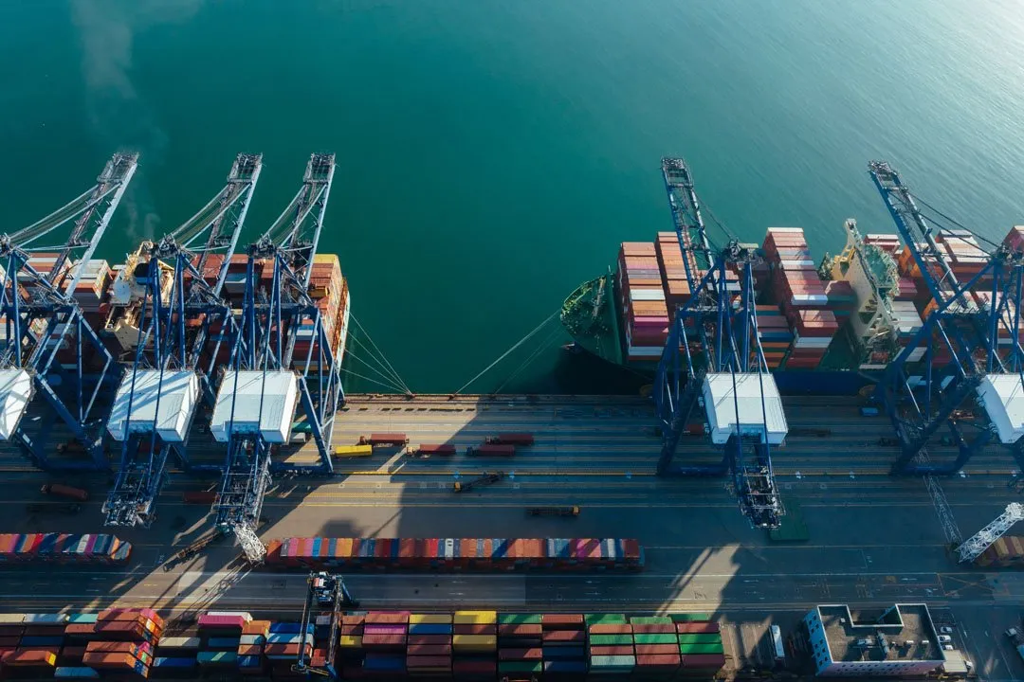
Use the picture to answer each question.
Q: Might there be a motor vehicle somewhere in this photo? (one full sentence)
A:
Yes, you can see a motor vehicle in this photo.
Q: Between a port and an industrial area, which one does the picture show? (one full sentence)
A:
This looks like a port.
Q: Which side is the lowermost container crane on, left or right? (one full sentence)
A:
The lowermost container crane is on the left side of the image.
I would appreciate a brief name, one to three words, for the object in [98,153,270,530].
container crane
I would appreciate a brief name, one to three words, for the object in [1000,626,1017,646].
vehicle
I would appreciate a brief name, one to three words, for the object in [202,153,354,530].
container crane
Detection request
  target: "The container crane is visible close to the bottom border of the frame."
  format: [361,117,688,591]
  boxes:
[286,571,362,682]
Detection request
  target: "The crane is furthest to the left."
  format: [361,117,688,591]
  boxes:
[0,153,135,473]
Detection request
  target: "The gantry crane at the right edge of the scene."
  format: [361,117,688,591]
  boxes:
[859,153,1024,484]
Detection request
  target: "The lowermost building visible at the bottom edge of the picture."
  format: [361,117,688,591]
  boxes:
[804,604,947,674]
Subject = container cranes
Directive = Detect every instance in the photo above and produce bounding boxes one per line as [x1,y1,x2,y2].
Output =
[859,153,1024,484]
[0,153,135,473]
[202,153,354,530]
[286,571,362,682]
[645,153,788,530]
[98,153,270,530]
